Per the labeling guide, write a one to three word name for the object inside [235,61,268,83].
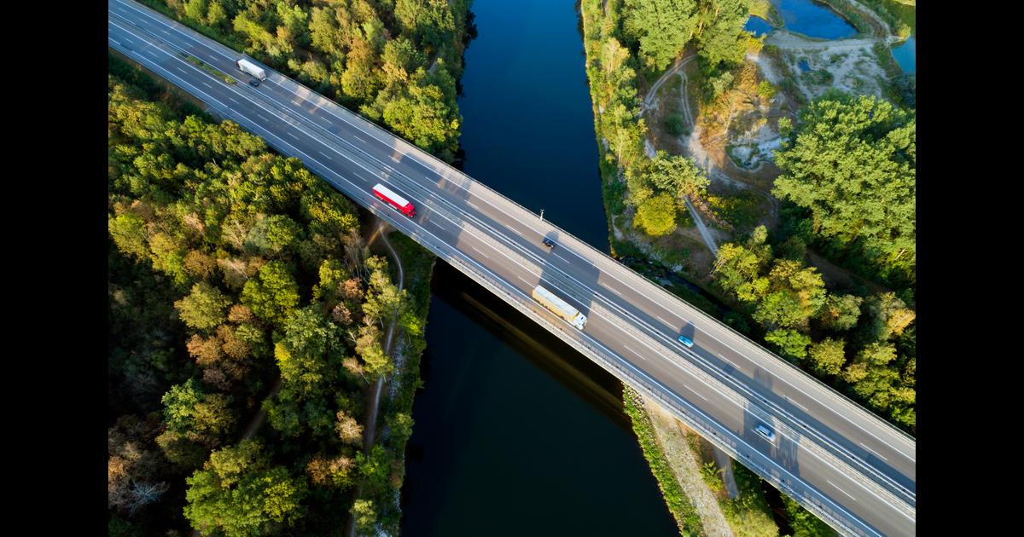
truck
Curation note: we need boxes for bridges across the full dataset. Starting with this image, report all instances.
[215,74,1024,537]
